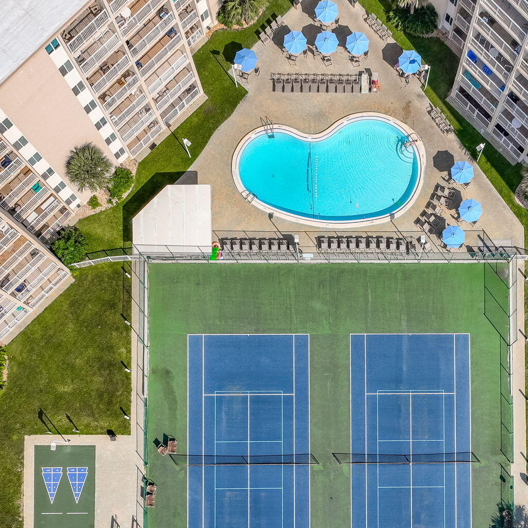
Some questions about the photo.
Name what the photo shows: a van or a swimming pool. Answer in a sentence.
It is a swimming pool that can be seen here.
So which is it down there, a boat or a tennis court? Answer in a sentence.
Looking from above, you can make out a tennis court.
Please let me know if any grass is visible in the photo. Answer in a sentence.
Yes, grass can be seen from above here.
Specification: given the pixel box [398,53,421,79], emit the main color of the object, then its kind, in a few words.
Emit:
blue umbrella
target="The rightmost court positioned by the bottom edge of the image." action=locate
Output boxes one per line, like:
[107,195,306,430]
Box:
[351,334,471,528]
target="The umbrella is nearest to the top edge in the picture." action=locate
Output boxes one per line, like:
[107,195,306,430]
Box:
[315,1,338,31]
